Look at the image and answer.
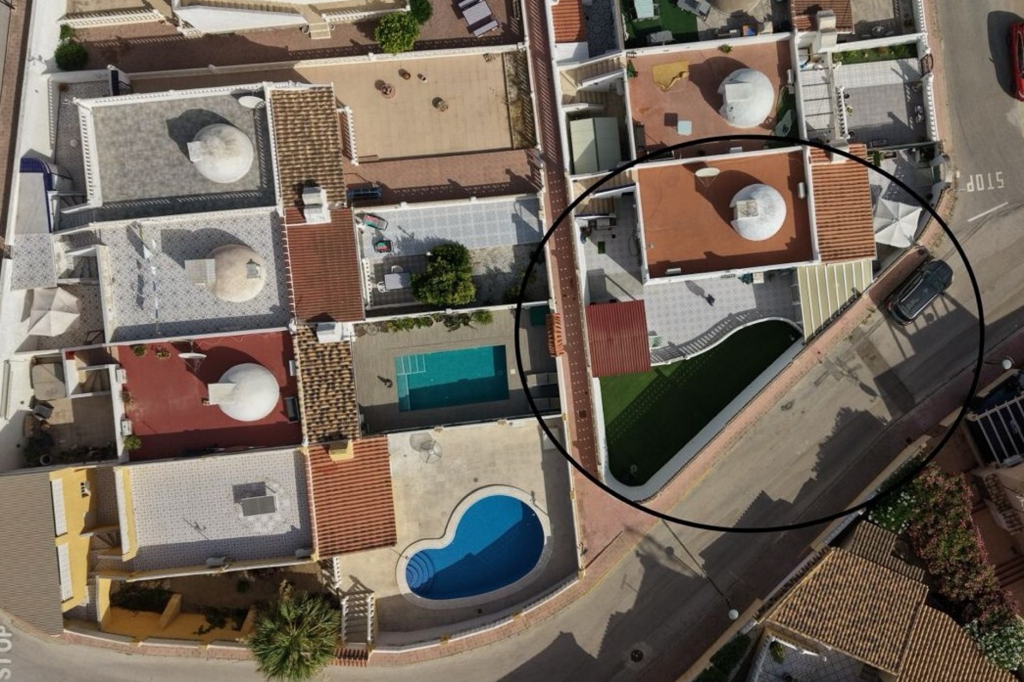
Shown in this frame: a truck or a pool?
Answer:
pool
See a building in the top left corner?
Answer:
Yes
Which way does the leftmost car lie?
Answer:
on a diagonal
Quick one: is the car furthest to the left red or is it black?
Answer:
black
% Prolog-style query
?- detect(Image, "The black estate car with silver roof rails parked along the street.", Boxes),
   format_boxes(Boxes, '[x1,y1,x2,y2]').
[879,258,954,329]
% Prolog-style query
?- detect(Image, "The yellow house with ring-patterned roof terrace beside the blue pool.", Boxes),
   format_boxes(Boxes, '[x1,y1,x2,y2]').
[115,433,397,585]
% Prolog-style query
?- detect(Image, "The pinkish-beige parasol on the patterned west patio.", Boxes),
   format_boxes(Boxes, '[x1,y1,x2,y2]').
[32,286,88,338]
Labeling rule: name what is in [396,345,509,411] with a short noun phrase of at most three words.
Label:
swimming pool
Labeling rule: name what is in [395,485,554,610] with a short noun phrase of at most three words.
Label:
swimming pool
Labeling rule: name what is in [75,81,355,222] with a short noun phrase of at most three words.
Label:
house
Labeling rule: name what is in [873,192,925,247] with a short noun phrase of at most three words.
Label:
umbrella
